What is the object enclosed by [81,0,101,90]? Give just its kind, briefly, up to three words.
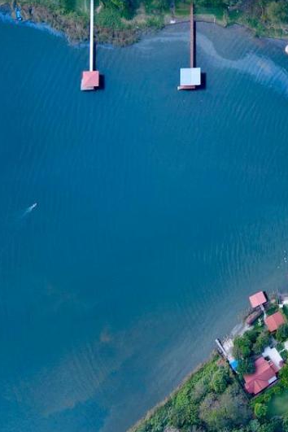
pier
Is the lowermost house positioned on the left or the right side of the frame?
right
